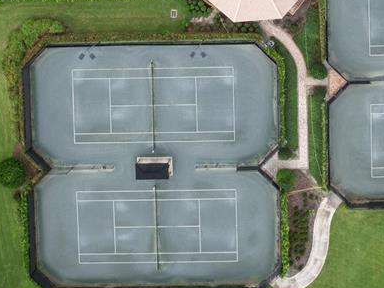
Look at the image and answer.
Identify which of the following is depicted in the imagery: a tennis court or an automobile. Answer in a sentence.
I can see a tennis court in this picture.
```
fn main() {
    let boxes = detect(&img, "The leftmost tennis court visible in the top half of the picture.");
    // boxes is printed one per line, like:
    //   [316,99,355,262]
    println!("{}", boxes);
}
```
[30,44,278,168]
